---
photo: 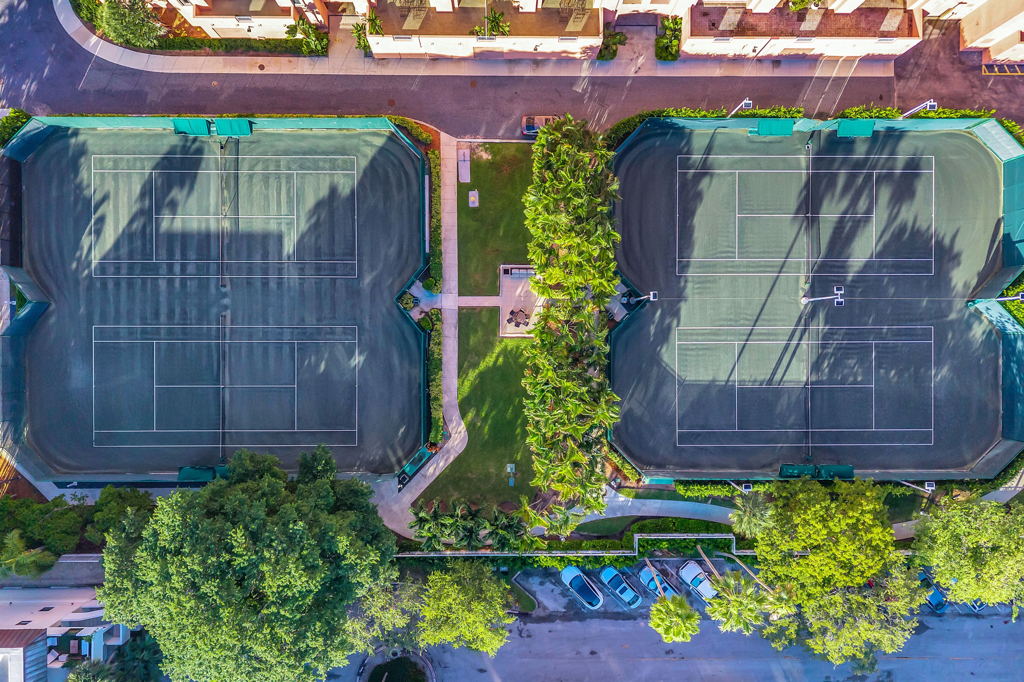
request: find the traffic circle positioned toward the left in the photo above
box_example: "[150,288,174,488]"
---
[356,646,435,682]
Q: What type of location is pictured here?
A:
sports ground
